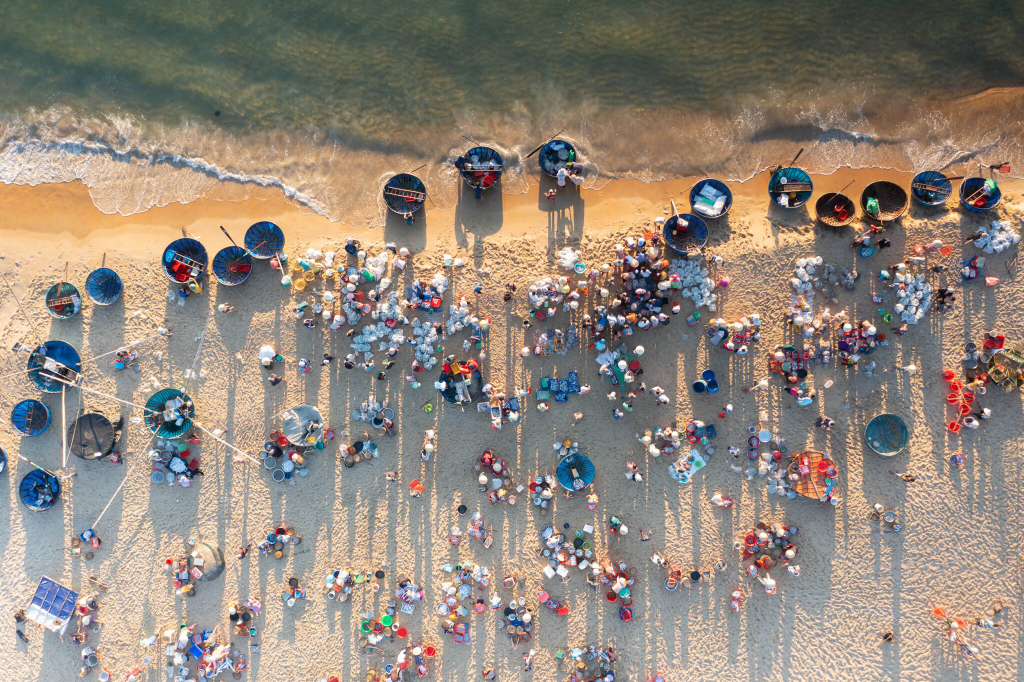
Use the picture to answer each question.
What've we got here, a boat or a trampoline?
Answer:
boat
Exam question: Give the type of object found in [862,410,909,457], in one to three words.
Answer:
boat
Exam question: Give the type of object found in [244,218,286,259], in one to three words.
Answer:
boat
